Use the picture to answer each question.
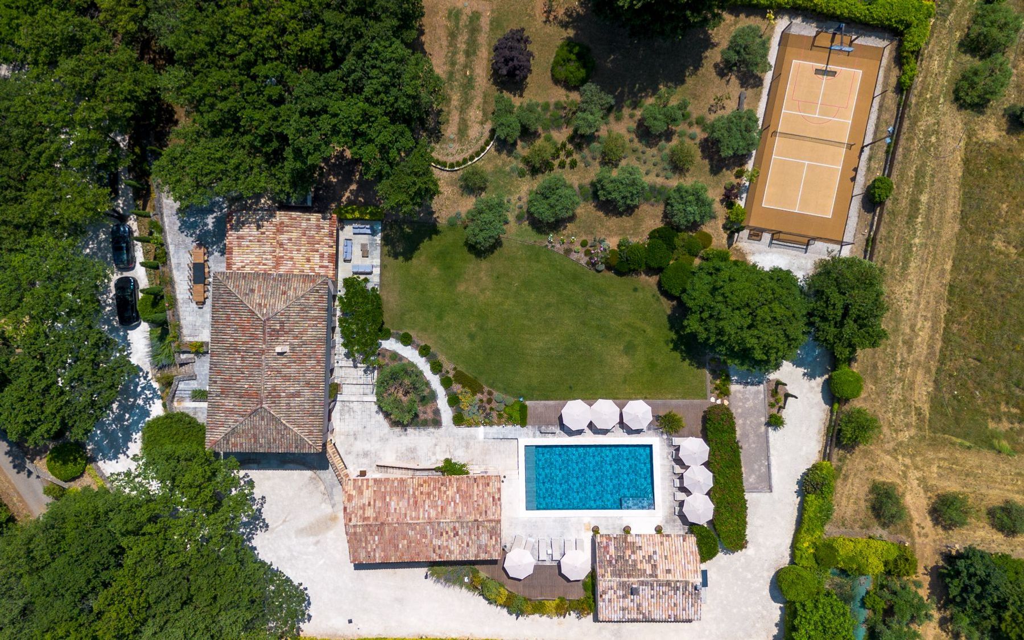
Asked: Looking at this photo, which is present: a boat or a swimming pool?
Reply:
swimming pool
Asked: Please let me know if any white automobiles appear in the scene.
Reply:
No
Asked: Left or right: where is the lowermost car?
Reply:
left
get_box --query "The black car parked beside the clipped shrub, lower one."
[113,277,143,327]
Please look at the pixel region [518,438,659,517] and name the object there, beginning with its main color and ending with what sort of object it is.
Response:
blue swimming pool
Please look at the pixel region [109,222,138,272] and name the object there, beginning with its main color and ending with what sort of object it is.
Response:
black car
